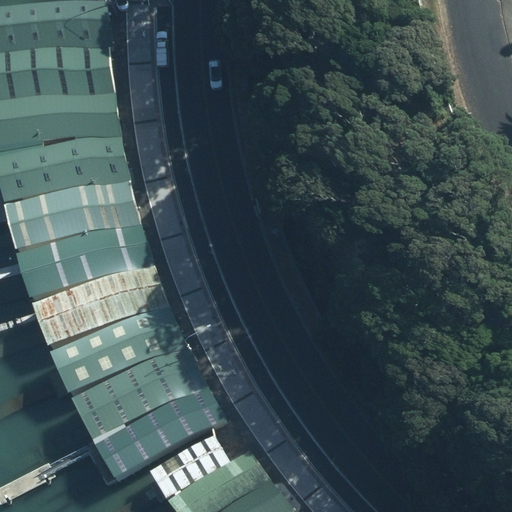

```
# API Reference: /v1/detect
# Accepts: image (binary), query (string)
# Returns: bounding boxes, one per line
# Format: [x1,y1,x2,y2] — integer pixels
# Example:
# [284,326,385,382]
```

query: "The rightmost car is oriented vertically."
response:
[208,60,222,90]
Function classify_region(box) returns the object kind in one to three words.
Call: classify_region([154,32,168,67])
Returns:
vehicle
